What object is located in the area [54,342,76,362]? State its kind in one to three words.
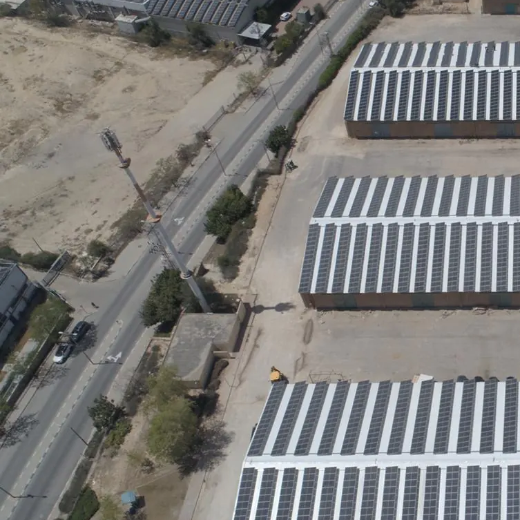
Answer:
car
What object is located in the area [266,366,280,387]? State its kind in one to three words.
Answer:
work vehicle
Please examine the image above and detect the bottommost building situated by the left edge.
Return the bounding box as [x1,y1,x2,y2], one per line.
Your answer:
[0,271,43,352]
